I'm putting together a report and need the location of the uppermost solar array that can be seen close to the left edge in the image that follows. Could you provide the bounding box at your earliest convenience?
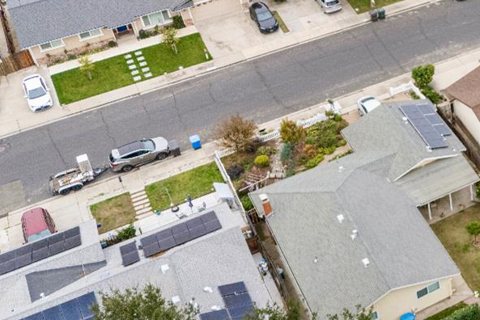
[0,224,82,273]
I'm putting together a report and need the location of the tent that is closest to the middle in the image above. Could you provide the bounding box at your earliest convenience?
[206,174,236,201]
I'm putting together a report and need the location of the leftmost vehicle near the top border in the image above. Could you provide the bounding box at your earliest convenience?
[248,1,279,30]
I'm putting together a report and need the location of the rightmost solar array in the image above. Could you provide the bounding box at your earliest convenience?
[398,102,454,148]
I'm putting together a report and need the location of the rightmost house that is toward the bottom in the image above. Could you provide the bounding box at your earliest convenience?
[250,98,480,320]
